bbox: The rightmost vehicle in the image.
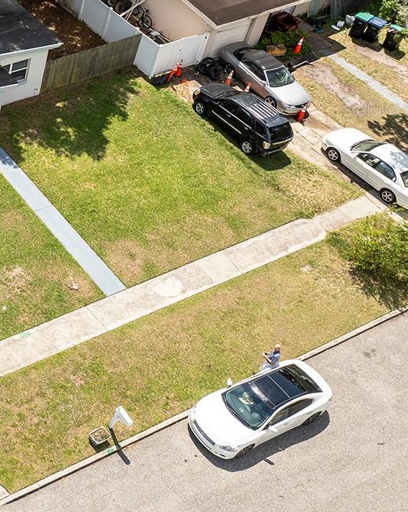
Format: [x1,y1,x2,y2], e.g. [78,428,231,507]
[319,128,408,205]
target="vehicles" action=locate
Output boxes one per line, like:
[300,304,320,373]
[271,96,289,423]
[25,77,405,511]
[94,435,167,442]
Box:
[224,45,329,119]
[187,361,343,466]
[319,128,408,205]
[190,80,304,160]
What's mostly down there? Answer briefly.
grass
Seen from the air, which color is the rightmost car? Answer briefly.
white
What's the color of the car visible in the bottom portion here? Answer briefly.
white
